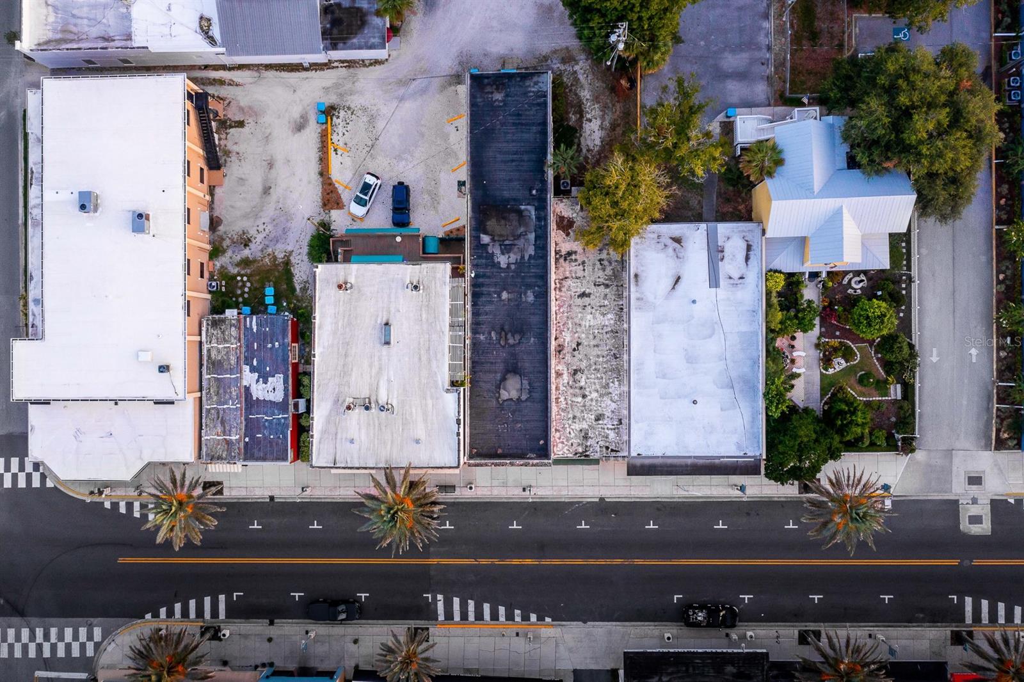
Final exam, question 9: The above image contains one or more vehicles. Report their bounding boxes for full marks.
[305,601,361,627]
[348,167,382,220]
[685,607,740,633]
[388,180,410,226]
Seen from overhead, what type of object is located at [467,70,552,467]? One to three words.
building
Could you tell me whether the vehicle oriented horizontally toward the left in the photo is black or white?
black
